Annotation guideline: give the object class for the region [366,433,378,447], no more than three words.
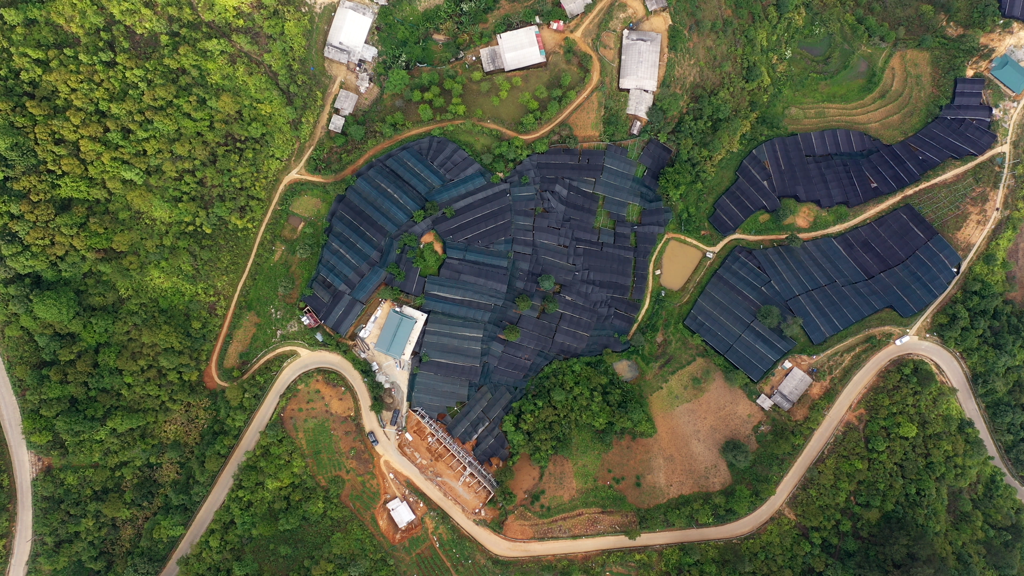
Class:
vehicle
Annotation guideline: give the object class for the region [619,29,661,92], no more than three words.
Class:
house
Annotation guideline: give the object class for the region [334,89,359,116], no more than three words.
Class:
barn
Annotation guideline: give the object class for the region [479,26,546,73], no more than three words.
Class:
house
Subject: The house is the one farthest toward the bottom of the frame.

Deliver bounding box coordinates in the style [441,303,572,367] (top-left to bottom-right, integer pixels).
[386,497,415,528]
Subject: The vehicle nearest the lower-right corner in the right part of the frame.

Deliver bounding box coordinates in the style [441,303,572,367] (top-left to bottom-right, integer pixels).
[896,334,913,346]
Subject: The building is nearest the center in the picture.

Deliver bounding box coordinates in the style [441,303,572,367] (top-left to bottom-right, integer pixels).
[374,309,416,360]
